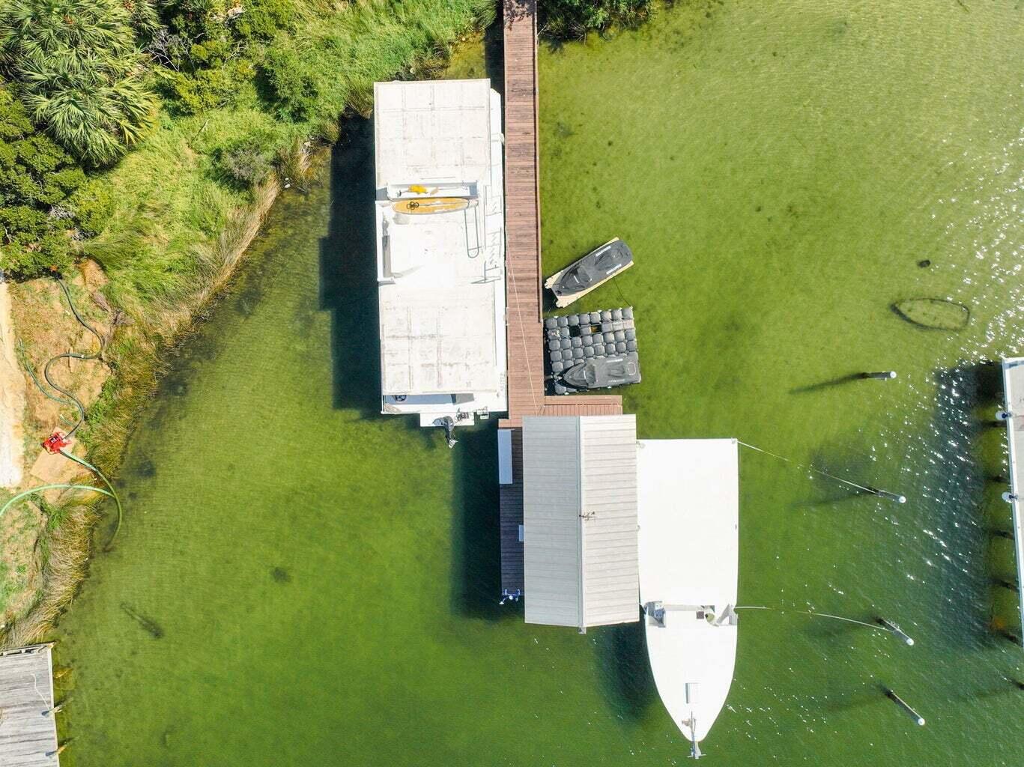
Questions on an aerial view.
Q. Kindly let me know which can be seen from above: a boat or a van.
boat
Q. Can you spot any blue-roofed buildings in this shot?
No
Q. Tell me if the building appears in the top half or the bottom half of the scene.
bottom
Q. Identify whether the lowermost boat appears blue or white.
white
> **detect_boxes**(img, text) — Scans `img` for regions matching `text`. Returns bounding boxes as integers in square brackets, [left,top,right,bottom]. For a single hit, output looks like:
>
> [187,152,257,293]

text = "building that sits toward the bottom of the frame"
[522,414,639,635]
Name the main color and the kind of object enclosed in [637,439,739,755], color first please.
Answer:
white boat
